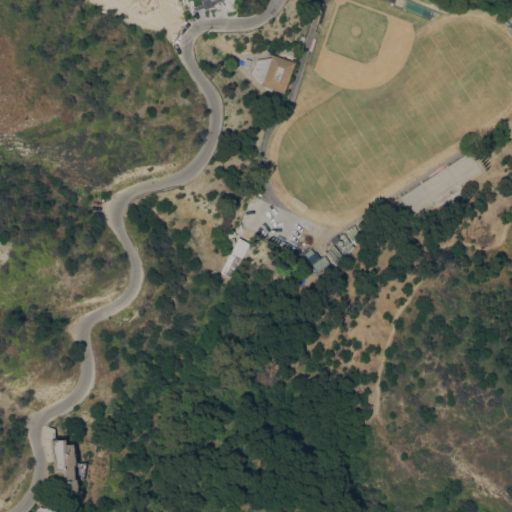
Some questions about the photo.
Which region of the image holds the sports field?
top right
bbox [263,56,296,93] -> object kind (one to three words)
house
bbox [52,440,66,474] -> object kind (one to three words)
house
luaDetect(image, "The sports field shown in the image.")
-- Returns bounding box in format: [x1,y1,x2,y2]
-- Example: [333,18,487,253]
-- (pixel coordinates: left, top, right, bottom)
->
[270,0,512,226]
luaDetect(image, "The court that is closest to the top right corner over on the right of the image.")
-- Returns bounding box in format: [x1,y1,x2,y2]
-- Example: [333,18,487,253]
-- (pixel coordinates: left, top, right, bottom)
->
[401,156,483,212]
